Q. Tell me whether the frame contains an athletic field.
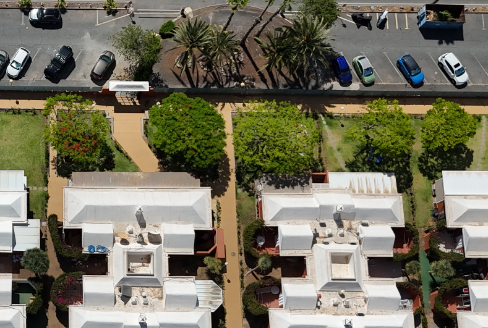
No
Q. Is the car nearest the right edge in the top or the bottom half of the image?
top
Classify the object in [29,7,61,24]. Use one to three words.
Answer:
car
